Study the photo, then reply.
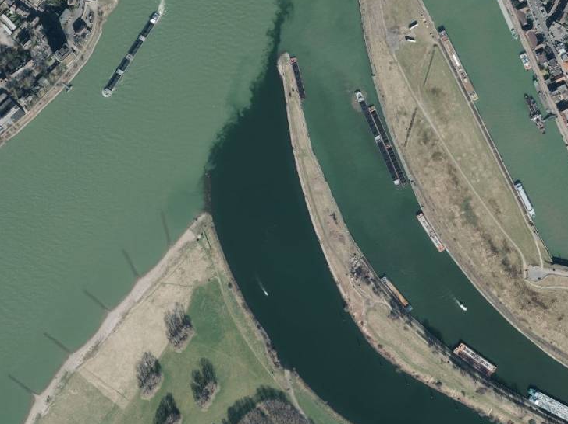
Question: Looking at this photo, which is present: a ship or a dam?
ship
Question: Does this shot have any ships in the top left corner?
Yes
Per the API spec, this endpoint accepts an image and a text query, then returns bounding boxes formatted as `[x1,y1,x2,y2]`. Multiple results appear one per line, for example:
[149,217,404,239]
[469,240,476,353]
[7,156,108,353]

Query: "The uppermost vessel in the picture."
[497,0,517,39]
